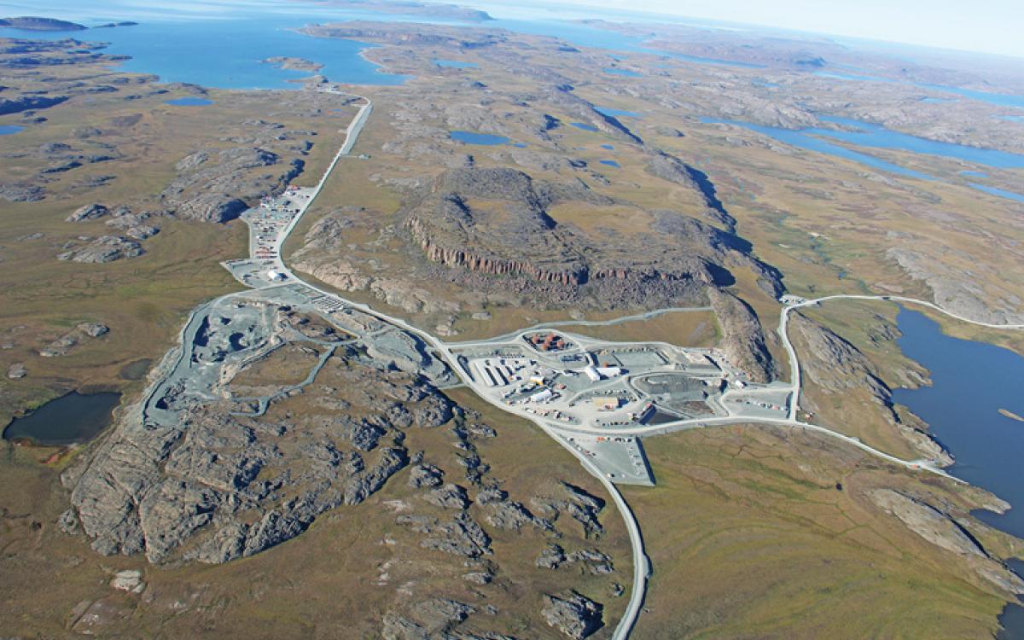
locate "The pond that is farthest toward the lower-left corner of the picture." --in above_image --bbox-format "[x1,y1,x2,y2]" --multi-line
[2,392,121,444]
